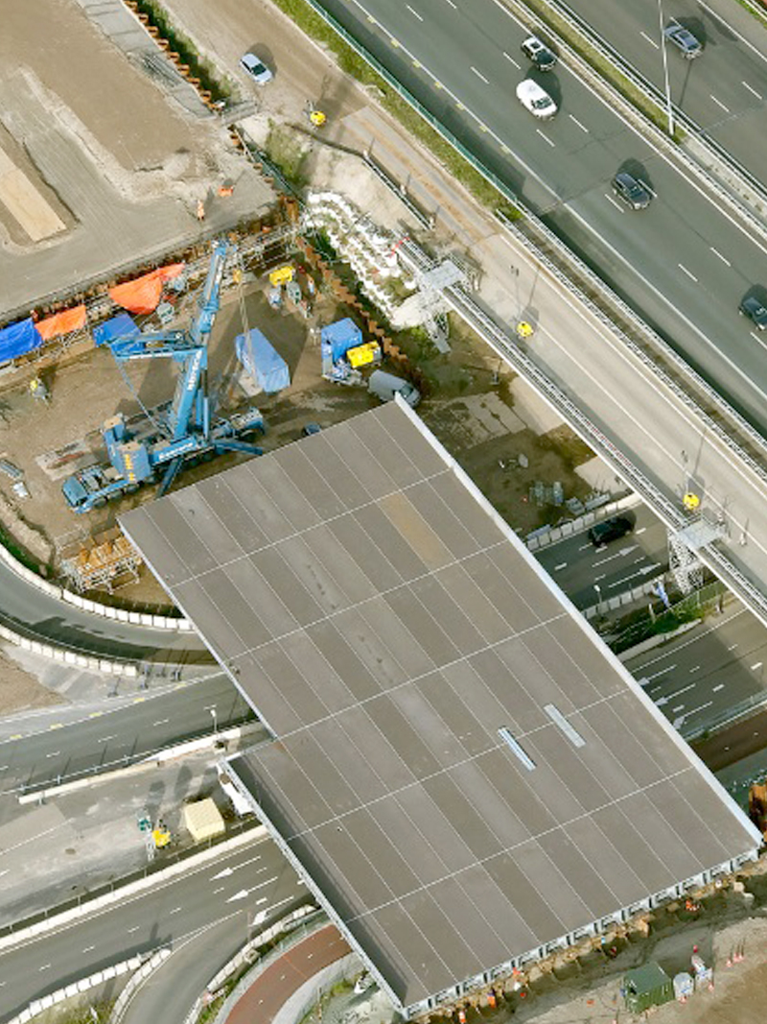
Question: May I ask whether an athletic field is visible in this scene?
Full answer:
No, the photo shows no athletic field.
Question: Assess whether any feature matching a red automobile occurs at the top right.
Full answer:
No, no red automobile is visible at the top right.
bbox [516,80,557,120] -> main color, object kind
white car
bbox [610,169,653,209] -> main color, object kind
gray car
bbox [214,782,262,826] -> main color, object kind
white truck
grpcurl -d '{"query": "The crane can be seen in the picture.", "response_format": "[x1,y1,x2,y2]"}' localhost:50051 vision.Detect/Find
[66,237,278,516]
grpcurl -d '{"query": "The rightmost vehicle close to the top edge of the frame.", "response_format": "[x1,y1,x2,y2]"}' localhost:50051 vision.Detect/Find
[664,26,705,58]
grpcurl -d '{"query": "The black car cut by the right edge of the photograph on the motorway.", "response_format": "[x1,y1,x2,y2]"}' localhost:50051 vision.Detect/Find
[738,284,767,327]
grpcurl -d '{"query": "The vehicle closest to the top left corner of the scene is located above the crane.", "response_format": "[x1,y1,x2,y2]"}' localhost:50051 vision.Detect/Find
[238,52,272,86]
